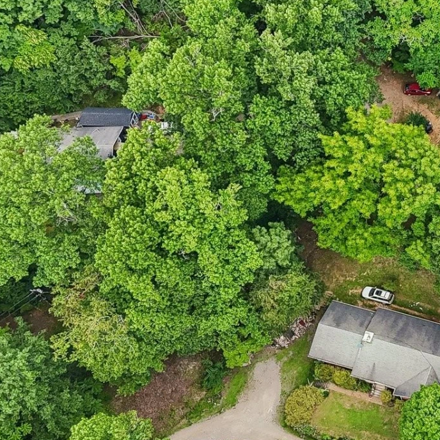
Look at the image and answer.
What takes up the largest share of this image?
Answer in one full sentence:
The bulk of the photo consists of trees.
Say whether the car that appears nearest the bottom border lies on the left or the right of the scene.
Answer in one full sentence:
You can find the car that appears nearest the bottom border on the right side of the picture.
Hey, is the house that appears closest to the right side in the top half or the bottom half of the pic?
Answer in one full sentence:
The house that appears closest to the right side sits in the bottom half of the picture.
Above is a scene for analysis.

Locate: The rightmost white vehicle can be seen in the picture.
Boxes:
[361,285,394,306]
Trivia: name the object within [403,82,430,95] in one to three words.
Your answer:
vehicle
